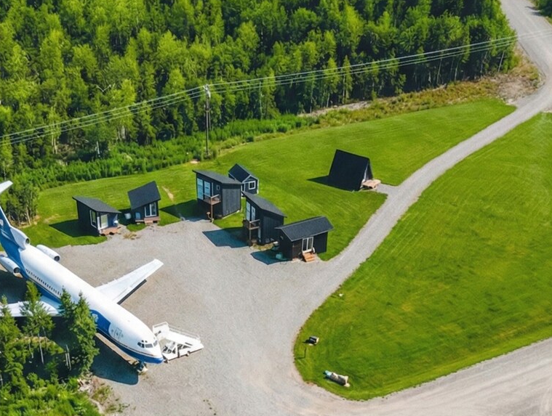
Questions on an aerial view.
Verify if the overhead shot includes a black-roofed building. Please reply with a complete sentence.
Yes, there's a black-roofed building down there.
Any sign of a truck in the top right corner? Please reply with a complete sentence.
No, no truck is visible in the top right corner.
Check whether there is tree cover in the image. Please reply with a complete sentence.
Yes, there is tree cover in the image.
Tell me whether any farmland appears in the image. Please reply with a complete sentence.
No, there's no farmland in this view.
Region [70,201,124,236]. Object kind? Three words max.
building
